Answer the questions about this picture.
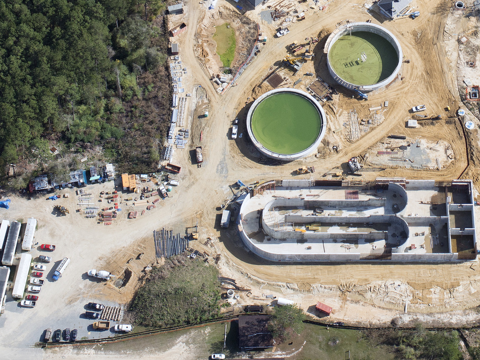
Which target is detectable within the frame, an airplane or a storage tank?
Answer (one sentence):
Visible in the photo is a storage tank.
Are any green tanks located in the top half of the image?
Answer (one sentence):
Yes, looking in the top half of the image, one can make out a green tank.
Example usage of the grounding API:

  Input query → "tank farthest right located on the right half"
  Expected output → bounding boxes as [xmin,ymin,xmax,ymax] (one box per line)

[325,23,403,93]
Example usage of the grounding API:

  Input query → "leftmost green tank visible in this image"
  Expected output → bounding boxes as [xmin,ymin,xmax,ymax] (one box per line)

[247,88,326,162]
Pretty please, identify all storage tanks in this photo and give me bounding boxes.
[325,23,403,93]
[247,88,326,162]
